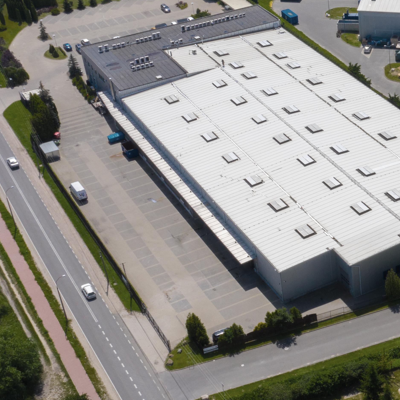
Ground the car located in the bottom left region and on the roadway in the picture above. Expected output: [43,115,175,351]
[81,285,98,301]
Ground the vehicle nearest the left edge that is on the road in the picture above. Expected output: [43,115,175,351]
[6,157,21,169]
